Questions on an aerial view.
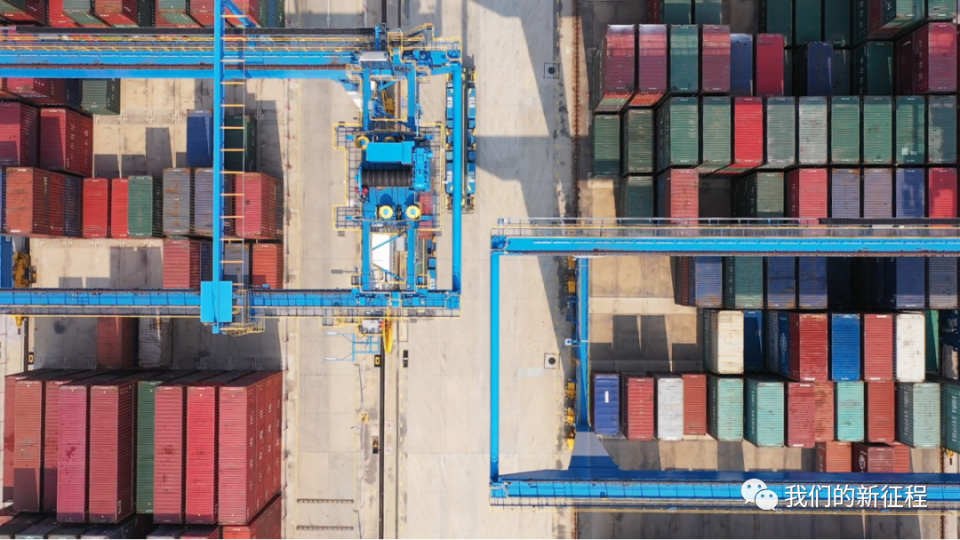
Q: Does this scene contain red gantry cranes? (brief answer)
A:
No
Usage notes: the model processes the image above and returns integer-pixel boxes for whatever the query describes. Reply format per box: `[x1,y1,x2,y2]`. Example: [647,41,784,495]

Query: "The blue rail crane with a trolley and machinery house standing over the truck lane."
[0,0,462,361]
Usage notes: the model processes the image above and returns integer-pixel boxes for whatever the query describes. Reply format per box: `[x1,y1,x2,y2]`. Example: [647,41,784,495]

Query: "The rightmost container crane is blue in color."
[490,218,960,508]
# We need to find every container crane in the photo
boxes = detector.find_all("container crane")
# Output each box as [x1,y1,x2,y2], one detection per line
[490,218,960,508]
[0,0,462,361]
